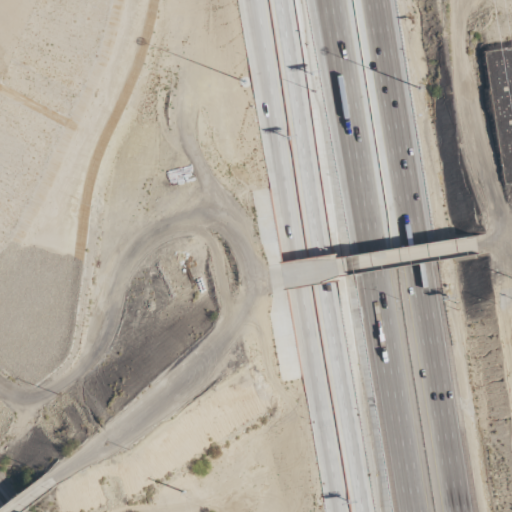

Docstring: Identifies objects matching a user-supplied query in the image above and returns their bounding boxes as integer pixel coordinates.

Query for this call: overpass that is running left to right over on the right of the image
[270,235,490,290]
